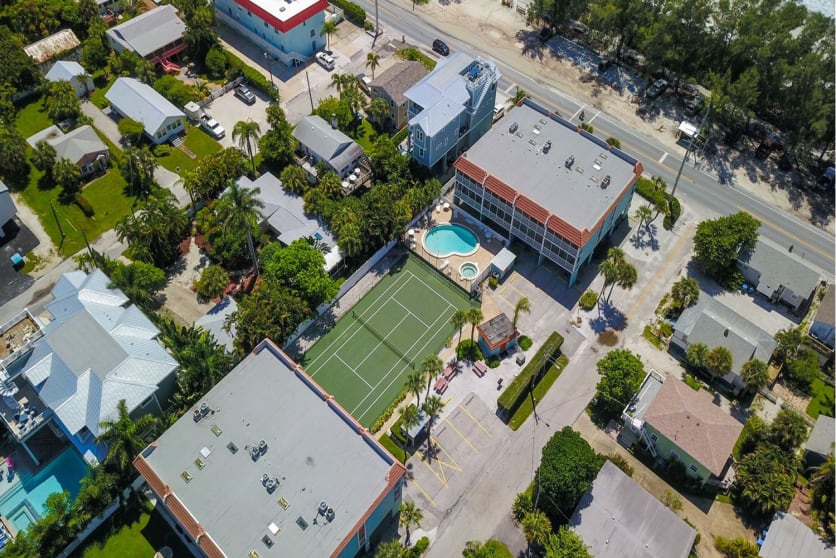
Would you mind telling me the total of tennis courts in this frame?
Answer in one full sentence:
The count comes to 1 tennis court.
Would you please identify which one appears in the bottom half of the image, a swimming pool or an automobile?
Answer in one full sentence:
There is a swimming pool in the bottom half of the image.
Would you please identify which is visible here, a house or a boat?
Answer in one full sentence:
Of the two, only a house appears.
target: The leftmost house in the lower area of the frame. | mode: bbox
[0,266,193,473]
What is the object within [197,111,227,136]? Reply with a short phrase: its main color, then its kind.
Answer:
white truck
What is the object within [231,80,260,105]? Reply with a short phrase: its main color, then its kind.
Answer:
gray truck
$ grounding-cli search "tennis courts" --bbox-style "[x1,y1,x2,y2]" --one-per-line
[294,250,482,430]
